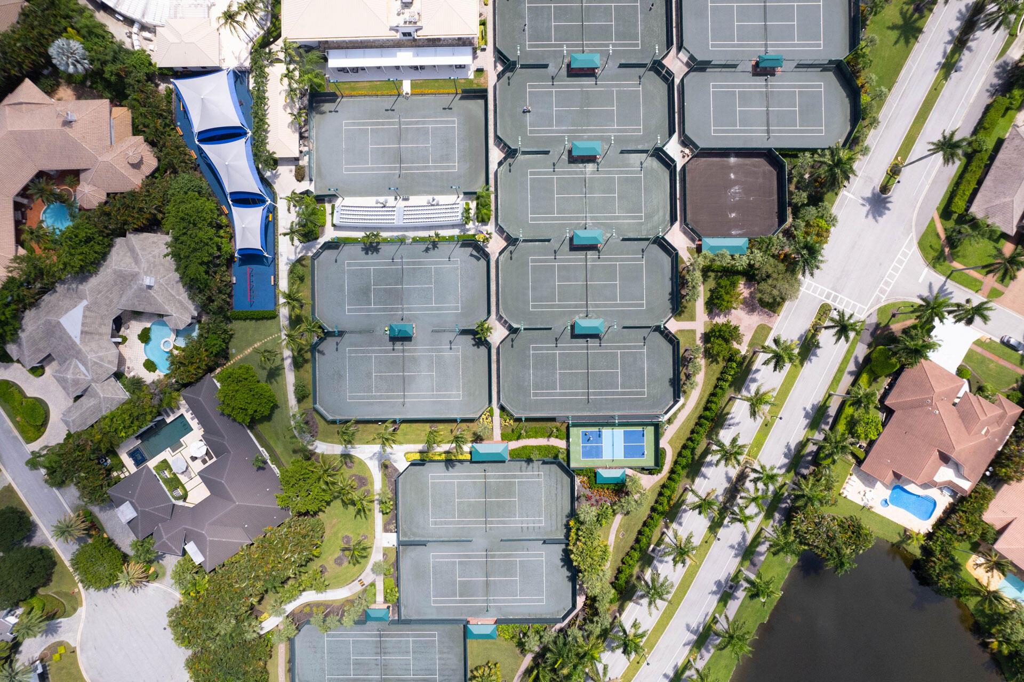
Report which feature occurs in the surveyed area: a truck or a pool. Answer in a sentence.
Looking from above, you can make out a pool.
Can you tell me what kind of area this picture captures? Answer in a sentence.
The picture captures a residential area.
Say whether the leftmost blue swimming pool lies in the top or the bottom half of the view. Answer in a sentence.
The top half of the photo is where the leftmost blue swimming pool is.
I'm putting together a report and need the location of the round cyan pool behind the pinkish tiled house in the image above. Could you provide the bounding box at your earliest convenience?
[40,195,80,234]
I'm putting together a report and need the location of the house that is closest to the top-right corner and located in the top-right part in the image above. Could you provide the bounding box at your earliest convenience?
[964,114,1024,236]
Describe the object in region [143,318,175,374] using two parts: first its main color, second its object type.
blue swimming pool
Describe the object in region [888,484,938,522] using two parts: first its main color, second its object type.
blue swimming pool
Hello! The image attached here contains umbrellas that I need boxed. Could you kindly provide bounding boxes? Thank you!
[172,457,188,472]
[191,440,208,456]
